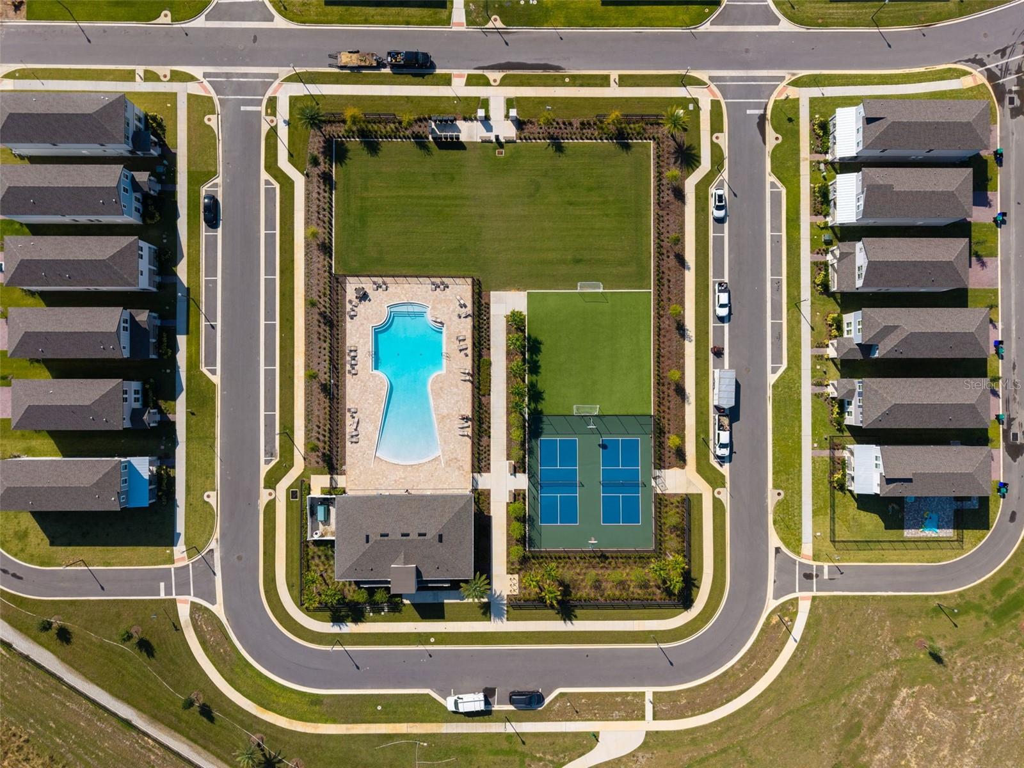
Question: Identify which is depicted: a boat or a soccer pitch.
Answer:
soccer pitch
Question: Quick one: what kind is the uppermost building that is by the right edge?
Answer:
home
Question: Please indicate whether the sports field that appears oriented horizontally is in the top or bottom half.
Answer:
top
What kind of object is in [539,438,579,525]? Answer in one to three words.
sports court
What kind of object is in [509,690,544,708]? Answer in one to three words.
car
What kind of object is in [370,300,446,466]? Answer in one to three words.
swimming pool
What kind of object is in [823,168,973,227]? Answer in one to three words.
house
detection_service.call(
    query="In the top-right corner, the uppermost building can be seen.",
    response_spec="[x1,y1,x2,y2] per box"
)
[823,100,990,164]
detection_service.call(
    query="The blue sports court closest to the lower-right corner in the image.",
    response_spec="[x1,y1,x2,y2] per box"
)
[601,438,641,525]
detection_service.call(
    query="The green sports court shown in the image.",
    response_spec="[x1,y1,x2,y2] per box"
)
[528,417,655,550]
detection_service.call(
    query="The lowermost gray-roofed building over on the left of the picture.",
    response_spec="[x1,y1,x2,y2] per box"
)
[304,493,474,593]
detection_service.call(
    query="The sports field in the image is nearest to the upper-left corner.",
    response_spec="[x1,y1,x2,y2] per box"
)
[333,138,653,291]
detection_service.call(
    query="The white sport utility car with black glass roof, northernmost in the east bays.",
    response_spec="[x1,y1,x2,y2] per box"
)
[711,188,727,219]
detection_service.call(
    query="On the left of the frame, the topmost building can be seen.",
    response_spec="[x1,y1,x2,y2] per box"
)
[0,92,165,157]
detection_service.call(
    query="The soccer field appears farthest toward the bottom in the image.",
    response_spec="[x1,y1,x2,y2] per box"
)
[526,290,653,551]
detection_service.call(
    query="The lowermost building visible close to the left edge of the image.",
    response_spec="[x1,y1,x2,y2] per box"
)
[0,455,163,511]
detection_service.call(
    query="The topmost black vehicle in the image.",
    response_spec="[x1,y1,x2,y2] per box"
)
[389,50,432,68]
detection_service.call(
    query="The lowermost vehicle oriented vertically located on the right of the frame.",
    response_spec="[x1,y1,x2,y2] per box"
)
[715,415,732,455]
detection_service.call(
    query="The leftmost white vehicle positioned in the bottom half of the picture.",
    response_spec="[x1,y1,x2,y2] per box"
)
[447,691,486,714]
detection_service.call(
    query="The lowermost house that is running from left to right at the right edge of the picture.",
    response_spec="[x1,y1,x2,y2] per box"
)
[843,444,991,497]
